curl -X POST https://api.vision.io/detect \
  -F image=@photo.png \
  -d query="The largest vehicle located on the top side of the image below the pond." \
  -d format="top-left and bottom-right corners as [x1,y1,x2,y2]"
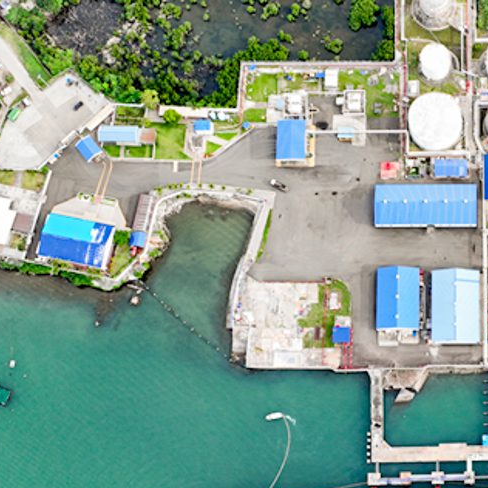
[268,177,287,191]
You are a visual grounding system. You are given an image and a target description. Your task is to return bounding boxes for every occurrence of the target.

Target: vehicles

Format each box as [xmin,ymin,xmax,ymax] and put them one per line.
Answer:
[73,101,84,111]
[268,177,287,191]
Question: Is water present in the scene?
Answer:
Yes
